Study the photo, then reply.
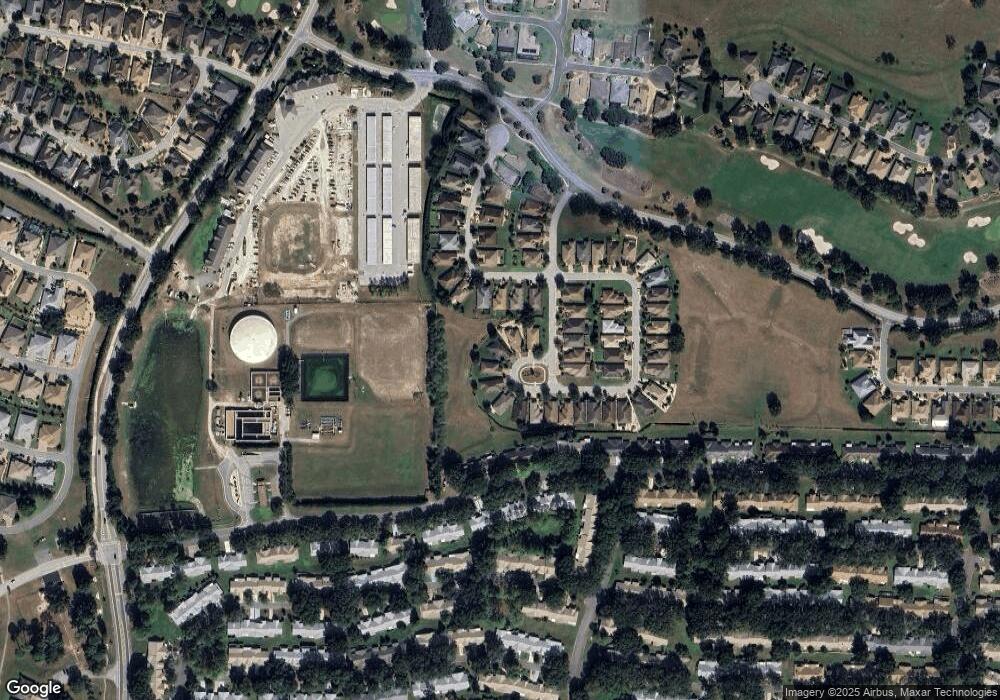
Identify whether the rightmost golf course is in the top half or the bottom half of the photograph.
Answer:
top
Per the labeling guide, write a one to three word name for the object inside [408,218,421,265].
building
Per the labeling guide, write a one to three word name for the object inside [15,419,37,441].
house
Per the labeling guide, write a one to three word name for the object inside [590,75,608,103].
house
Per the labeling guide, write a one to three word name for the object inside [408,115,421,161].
building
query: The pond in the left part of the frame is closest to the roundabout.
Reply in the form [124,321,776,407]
[301,351,350,401]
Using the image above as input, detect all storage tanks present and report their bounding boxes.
[229,315,276,363]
